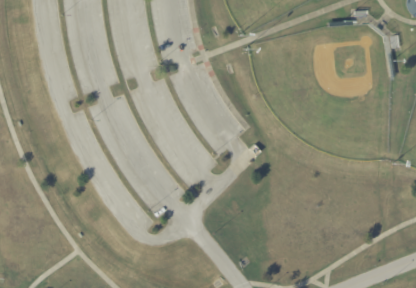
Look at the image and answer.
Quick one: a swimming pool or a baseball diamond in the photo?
baseball diamond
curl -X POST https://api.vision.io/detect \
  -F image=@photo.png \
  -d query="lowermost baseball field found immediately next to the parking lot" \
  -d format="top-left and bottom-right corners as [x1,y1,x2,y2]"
[250,26,394,161]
